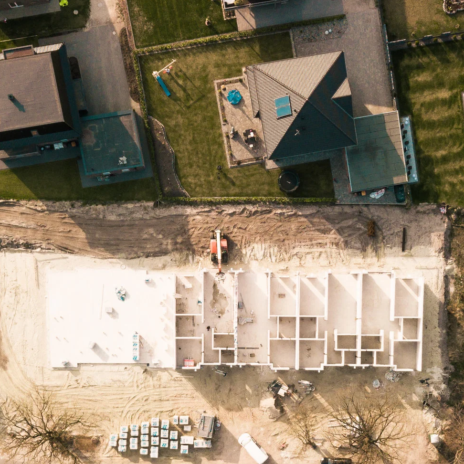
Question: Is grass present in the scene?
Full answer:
Yes, the picture does contain grass.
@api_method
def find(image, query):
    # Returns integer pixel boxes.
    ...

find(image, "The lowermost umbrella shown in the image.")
[226,86,241,103]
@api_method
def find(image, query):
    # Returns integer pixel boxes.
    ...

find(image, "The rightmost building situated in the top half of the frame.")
[345,111,407,192]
